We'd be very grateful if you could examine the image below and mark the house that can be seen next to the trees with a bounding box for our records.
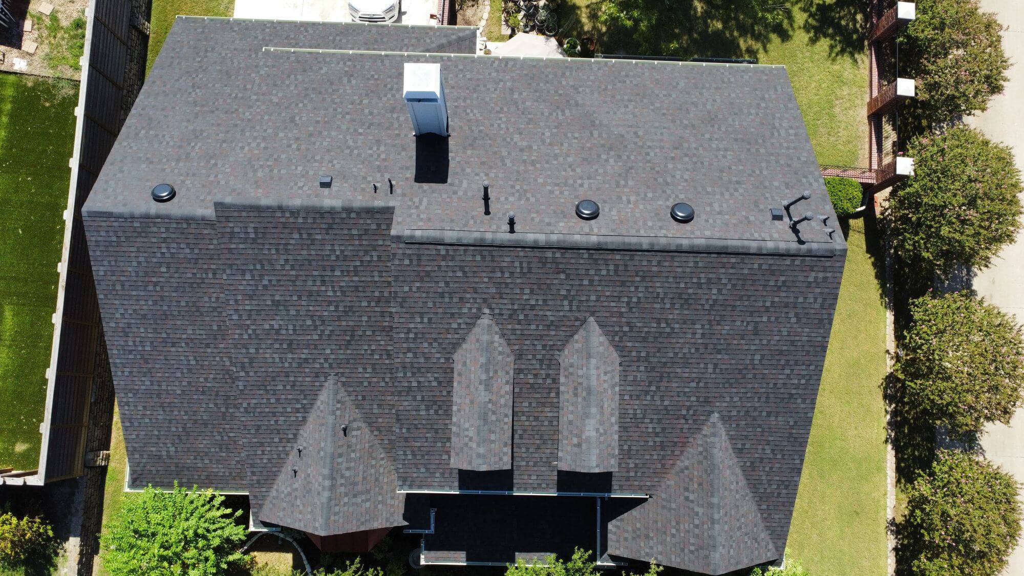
[83,15,847,575]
